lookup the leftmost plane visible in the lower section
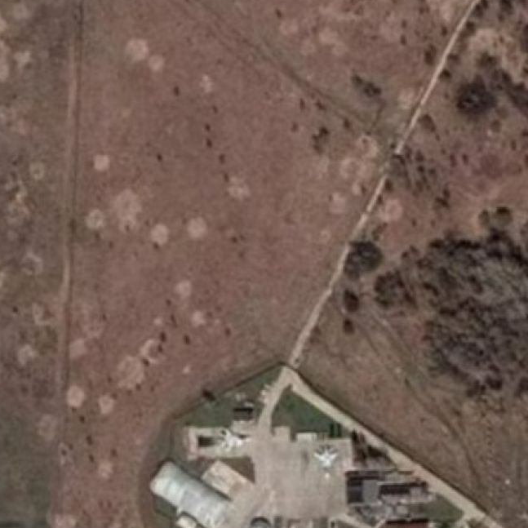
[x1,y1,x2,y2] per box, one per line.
[215,428,247,449]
